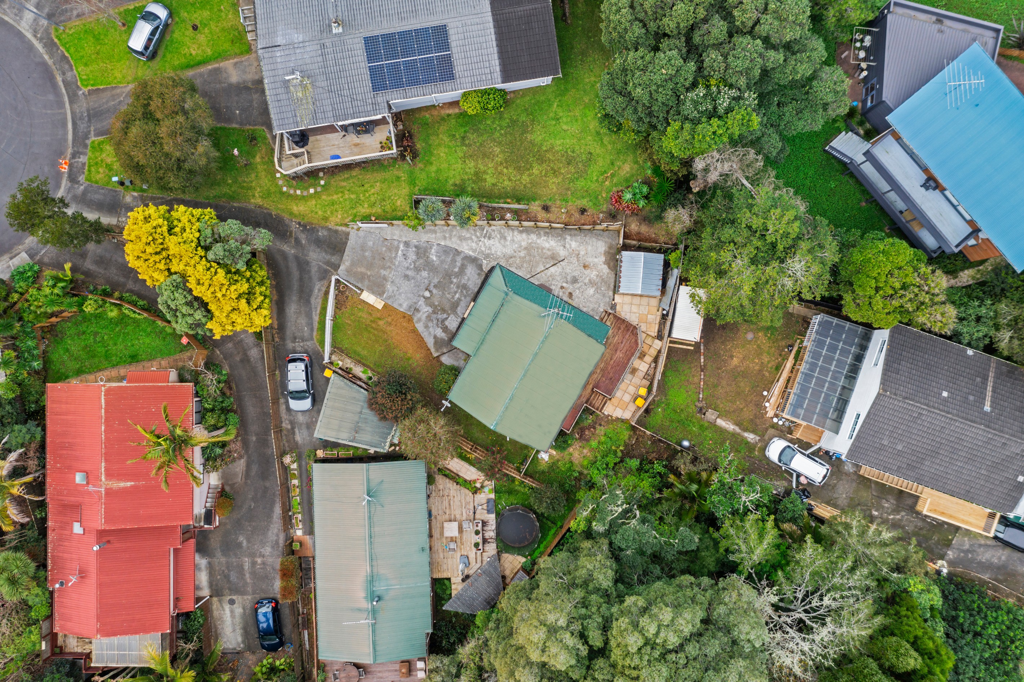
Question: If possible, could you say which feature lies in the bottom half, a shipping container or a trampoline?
trampoline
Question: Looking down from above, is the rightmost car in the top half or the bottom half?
bottom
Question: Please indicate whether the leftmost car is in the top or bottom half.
top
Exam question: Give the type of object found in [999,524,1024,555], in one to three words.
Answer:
car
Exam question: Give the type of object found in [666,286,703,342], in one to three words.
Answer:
shed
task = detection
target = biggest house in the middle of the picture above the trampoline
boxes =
[447,264,611,451]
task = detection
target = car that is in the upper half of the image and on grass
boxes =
[124,0,170,60]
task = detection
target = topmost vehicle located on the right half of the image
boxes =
[765,440,831,486]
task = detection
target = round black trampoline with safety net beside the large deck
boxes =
[495,504,544,565]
